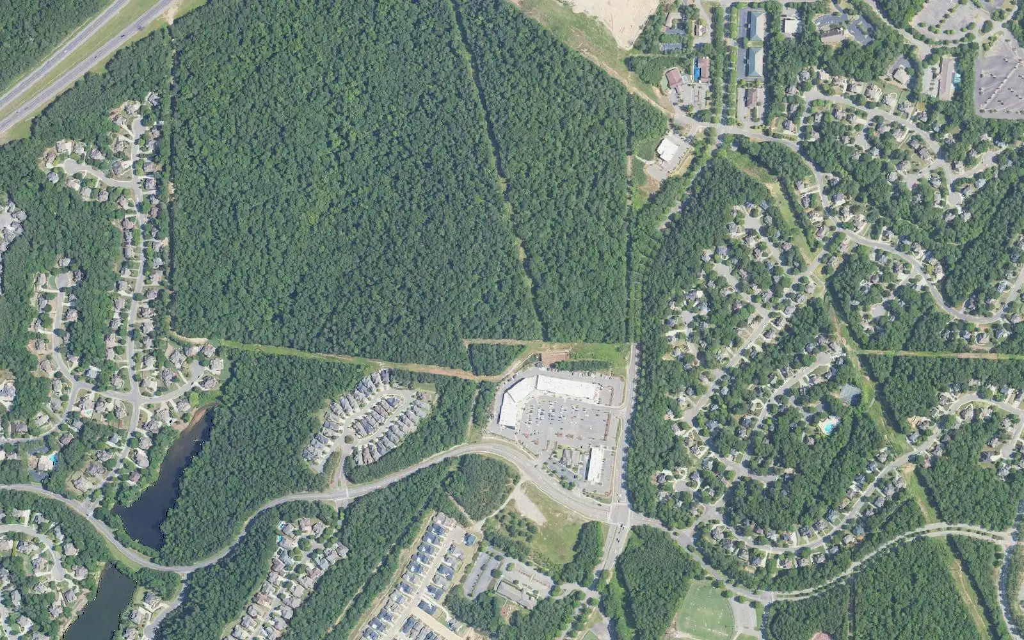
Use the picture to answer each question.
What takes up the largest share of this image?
trees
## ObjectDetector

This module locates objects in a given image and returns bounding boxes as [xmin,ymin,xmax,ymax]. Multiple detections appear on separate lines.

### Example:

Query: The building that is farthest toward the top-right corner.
[939,57,956,100]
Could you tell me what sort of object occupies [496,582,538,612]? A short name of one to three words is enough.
building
